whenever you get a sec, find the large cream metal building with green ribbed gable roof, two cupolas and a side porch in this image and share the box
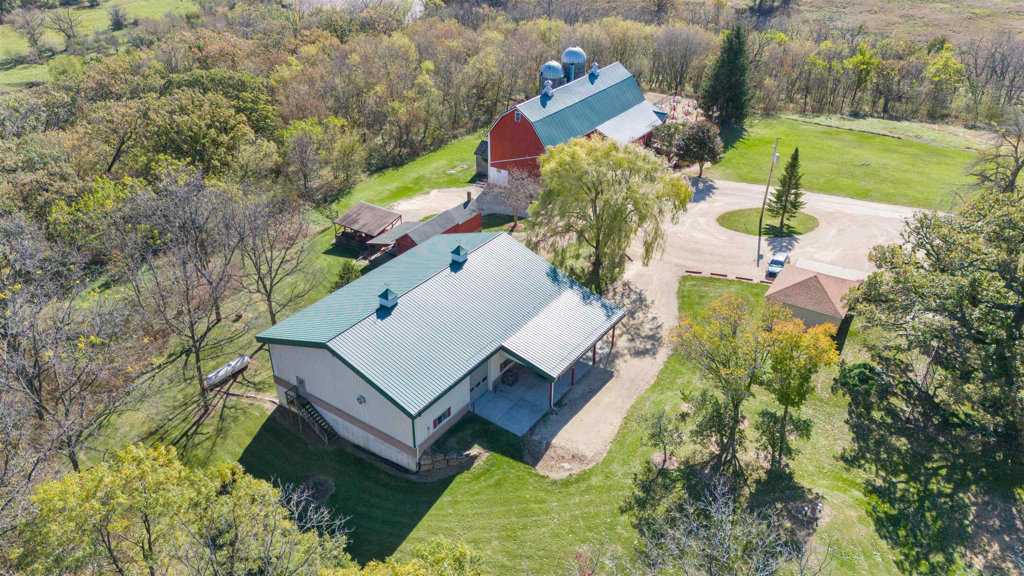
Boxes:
[257,232,628,472]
